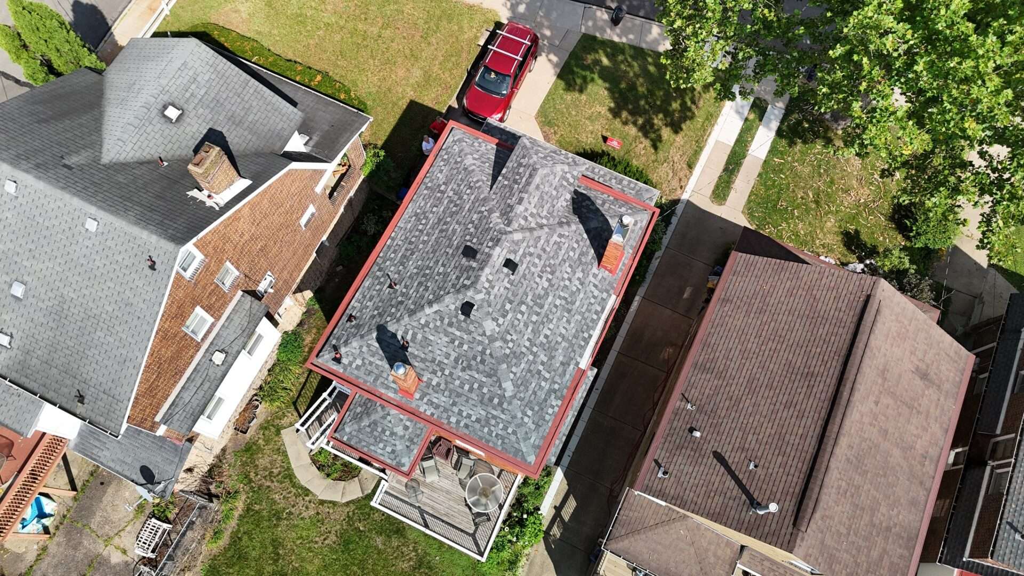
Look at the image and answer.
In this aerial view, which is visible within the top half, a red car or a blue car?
red car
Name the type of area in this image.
residential area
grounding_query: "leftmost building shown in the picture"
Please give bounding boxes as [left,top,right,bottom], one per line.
[0,36,375,503]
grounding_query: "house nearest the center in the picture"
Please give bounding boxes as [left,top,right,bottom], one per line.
[308,116,659,478]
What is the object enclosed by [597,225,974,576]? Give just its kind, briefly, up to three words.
house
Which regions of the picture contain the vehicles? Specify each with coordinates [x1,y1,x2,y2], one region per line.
[459,18,546,123]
